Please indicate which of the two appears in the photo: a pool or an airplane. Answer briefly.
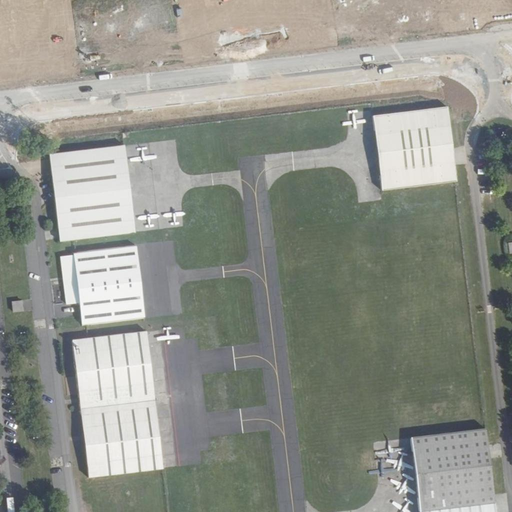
airplane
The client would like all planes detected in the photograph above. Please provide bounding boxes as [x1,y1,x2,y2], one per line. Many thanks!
[390,498,414,512]
[376,433,404,458]
[156,326,180,344]
[342,110,366,129]
[130,146,157,164]
[137,210,160,226]
[386,452,414,472]
[162,208,186,224]
[369,457,396,476]
[390,474,416,494]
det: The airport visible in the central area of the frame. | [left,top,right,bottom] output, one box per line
[126,108,420,512]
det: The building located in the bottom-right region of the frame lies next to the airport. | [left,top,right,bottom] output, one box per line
[411,428,496,512]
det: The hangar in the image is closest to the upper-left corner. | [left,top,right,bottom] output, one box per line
[50,145,136,242]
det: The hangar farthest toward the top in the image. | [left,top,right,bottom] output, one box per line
[372,106,458,190]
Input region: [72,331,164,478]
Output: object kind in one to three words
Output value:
hangar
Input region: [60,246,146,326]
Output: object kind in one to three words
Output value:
hangar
